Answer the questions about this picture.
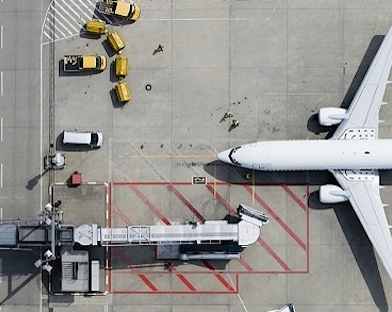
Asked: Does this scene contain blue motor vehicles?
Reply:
No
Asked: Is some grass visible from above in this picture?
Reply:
No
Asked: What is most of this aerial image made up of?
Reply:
paved ground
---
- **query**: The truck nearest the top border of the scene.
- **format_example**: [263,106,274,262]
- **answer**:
[97,0,142,22]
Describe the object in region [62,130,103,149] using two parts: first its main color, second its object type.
white vehicle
